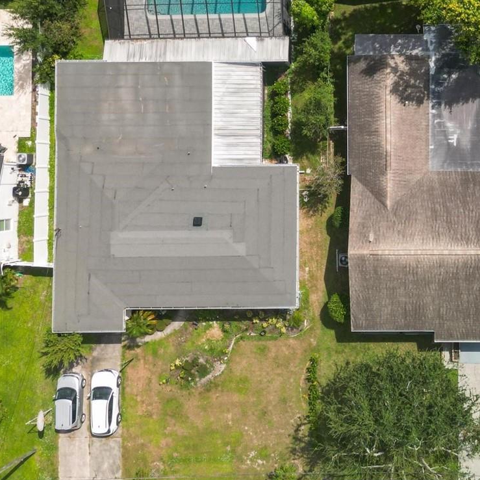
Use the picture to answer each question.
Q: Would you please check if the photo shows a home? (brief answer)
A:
Yes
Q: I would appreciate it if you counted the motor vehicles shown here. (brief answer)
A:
two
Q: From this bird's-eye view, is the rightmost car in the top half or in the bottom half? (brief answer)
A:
bottom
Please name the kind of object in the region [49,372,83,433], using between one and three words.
car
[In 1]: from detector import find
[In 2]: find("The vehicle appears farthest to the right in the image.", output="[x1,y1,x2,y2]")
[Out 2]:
[86,368,120,434]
